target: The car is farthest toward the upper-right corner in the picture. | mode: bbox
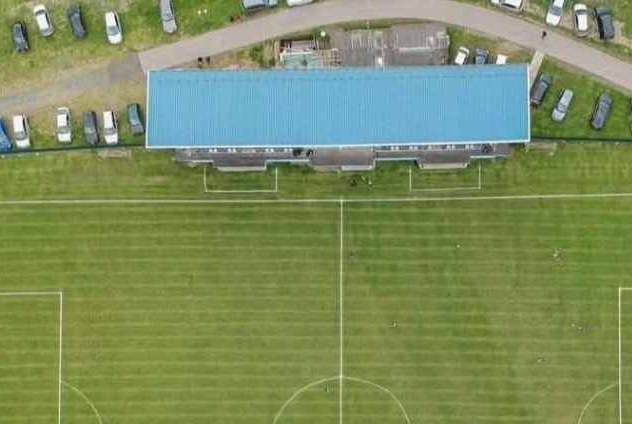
[594,5,615,41]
